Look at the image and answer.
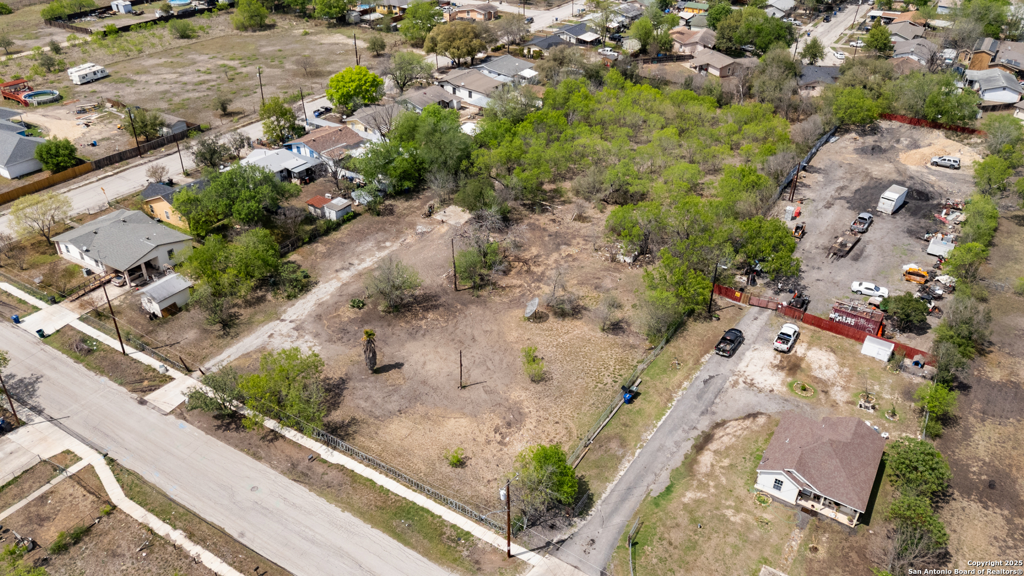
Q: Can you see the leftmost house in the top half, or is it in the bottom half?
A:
top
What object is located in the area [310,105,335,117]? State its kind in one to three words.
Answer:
vehicle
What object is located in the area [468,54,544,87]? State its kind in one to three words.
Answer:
house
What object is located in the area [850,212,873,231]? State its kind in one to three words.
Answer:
vehicle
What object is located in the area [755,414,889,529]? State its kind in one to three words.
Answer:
house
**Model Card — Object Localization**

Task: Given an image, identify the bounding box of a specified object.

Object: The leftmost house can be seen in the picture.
[0,112,47,179]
